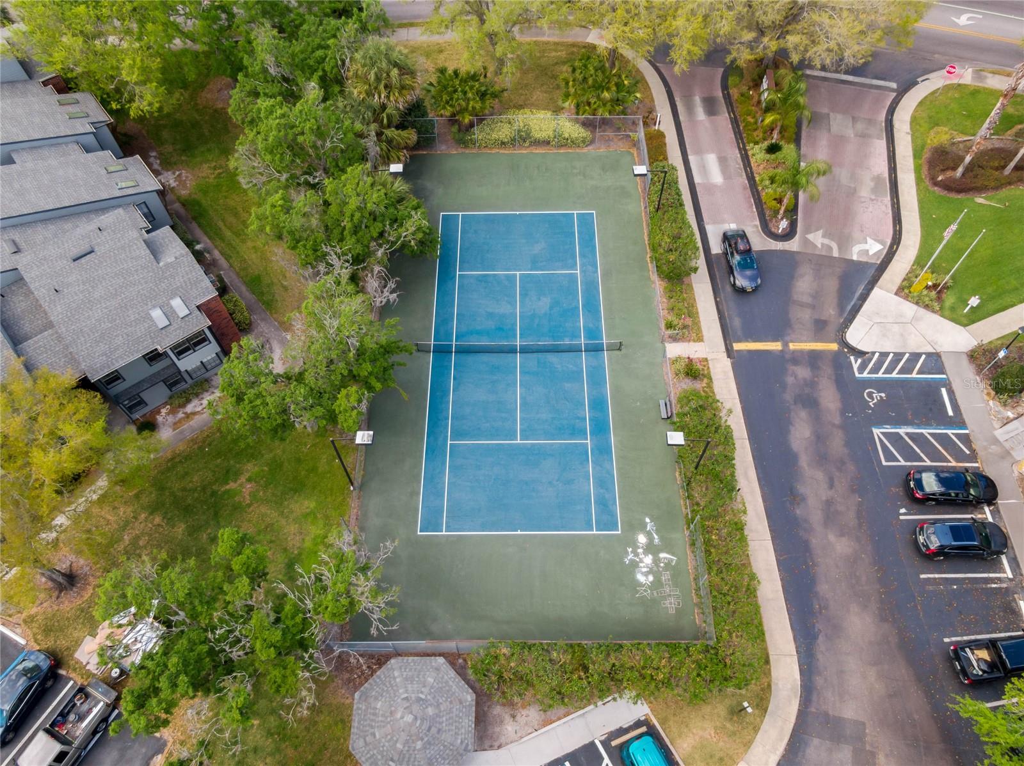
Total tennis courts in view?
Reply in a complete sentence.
My tally gives 1 tennis court in this photo.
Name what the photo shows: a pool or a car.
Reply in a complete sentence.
The image shows a car.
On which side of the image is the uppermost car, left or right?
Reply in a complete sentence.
The uppermost car appears in the right half of the scene.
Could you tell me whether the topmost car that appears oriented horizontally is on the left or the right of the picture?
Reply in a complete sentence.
The topmost car that appears oriented horizontally is on the right side of the image.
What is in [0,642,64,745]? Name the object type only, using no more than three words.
car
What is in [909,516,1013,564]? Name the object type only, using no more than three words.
car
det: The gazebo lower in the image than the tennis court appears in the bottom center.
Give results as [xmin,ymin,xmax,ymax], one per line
[352,657,477,766]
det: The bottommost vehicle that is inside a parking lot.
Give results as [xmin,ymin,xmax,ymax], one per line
[626,731,676,766]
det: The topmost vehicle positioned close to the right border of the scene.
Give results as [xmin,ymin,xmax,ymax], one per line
[902,465,1001,508]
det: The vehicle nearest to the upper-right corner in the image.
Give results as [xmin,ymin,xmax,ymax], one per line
[722,231,763,294]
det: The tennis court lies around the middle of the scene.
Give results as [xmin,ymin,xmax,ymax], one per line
[347,150,702,643]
